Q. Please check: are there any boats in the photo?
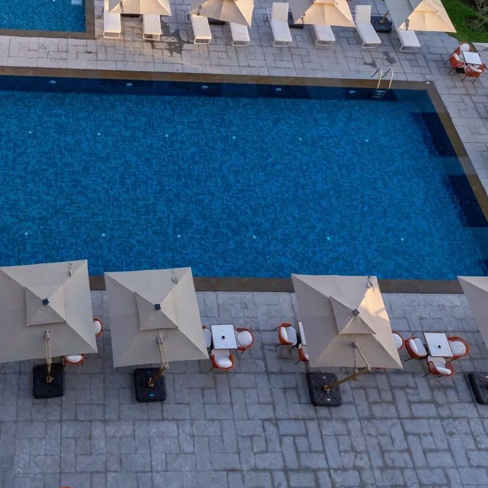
No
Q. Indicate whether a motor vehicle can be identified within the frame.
No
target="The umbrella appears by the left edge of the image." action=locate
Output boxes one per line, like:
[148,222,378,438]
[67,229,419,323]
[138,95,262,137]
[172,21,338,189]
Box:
[0,263,99,398]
